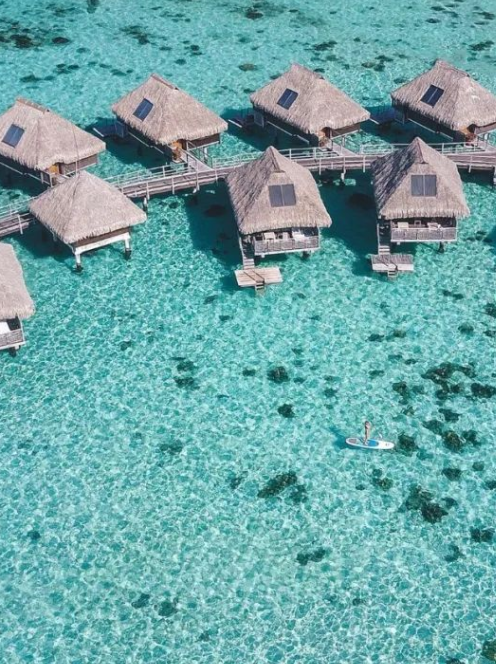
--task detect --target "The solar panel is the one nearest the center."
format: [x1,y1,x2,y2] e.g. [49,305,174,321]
[269,186,297,209]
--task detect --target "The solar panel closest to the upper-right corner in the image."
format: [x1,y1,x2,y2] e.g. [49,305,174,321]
[420,85,445,107]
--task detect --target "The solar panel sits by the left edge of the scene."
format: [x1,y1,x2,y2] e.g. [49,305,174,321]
[1,123,25,148]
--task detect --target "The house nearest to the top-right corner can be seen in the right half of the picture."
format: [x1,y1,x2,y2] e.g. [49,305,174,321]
[369,61,496,152]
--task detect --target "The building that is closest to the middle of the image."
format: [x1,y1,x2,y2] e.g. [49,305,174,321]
[227,147,333,291]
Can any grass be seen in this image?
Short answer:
No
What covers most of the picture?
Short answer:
water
